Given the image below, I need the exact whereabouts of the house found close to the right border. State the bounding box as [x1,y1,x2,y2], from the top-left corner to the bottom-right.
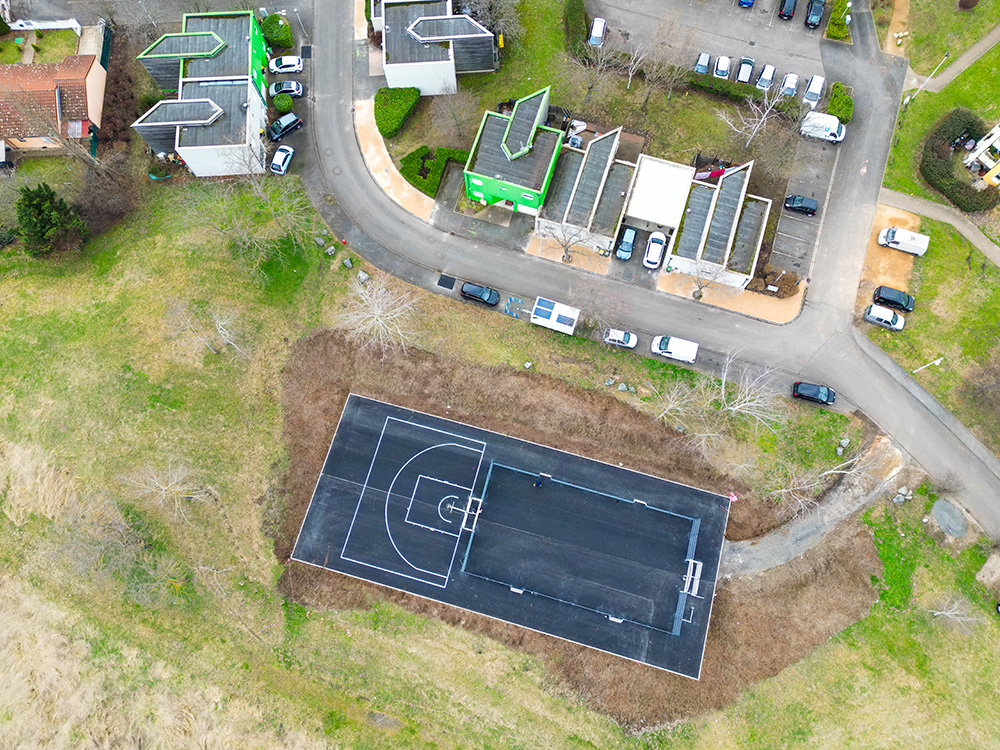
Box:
[957,126,1000,196]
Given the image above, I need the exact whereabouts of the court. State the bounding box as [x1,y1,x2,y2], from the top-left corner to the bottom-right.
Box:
[290,394,732,681]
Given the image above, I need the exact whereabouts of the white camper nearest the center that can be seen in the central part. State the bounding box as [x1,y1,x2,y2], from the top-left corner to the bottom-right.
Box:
[522,298,579,334]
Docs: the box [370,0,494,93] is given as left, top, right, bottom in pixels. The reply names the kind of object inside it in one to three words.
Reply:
house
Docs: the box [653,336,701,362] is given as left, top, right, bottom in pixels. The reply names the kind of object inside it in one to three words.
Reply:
vehicle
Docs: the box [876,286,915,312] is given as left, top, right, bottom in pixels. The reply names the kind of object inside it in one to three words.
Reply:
car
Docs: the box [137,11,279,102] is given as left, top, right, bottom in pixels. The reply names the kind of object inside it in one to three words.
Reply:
building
